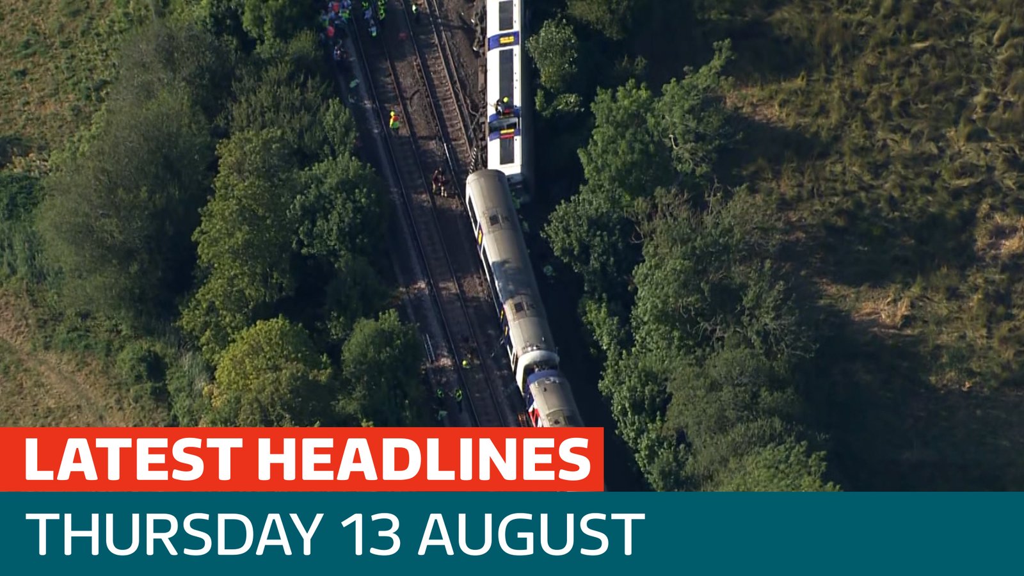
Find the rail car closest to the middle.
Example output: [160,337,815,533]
[461,169,561,390]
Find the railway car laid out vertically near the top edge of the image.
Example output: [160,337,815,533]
[474,0,535,209]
